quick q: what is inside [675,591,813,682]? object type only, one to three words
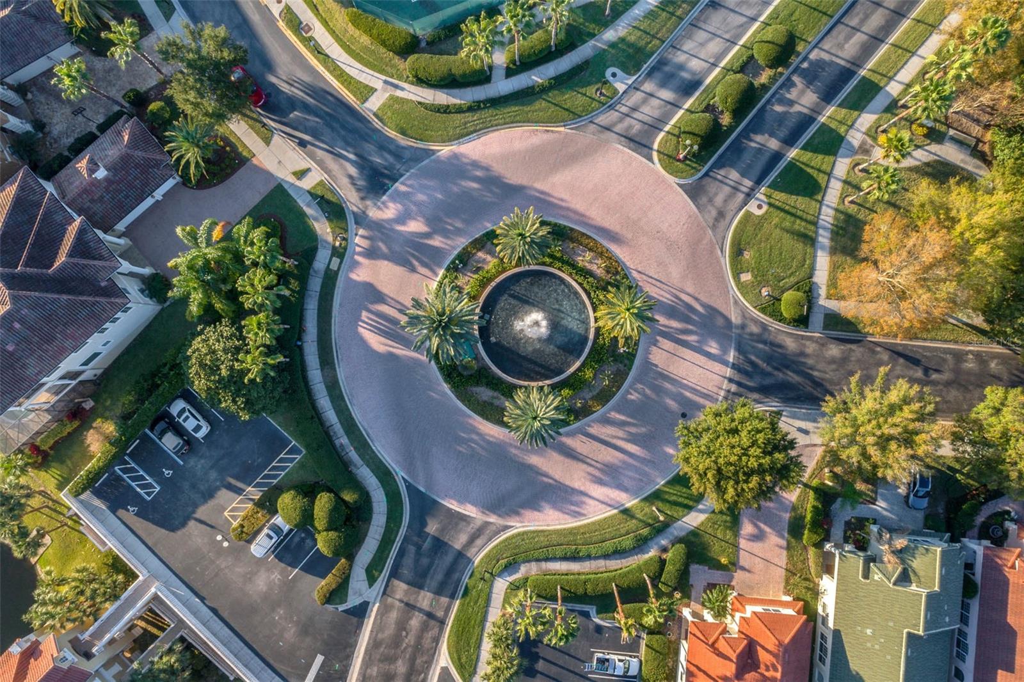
house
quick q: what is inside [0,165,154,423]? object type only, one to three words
house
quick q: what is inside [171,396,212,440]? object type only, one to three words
car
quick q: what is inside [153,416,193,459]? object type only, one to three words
car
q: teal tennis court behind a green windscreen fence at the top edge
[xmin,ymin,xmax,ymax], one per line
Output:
[366,0,512,34]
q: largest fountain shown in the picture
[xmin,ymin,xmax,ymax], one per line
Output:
[479,266,596,383]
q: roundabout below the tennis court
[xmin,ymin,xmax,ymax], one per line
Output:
[339,129,737,528]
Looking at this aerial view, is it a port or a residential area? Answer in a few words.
residential area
